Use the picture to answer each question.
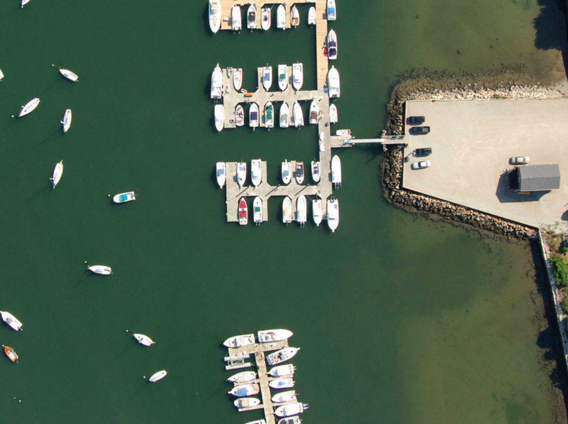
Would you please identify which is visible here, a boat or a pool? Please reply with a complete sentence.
It is a boat that can be seen here.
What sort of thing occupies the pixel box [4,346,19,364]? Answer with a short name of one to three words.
boat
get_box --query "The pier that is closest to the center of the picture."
[225,161,317,222]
